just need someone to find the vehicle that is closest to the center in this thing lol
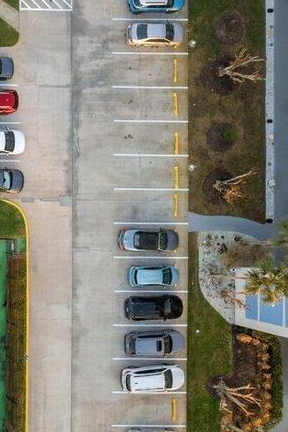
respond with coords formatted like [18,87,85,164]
[118,226,178,254]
